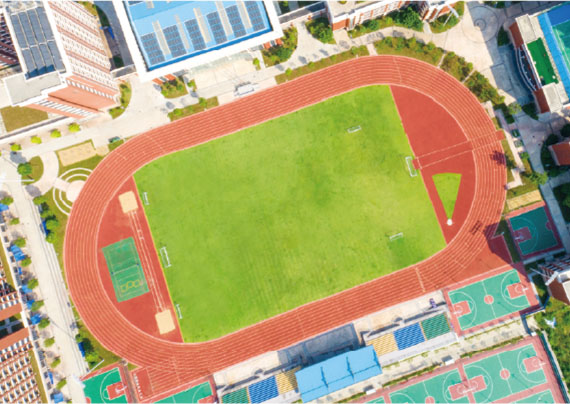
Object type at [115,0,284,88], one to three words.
building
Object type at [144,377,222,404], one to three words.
basketball court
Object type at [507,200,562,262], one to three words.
basketball court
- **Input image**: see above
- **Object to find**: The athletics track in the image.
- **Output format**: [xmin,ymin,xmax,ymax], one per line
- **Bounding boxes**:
[64,53,517,402]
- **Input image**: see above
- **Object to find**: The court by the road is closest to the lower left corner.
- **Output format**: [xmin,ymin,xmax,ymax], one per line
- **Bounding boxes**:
[81,364,135,404]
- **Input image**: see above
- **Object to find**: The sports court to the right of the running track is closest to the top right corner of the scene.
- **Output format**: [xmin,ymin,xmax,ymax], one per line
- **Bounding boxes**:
[538,2,570,122]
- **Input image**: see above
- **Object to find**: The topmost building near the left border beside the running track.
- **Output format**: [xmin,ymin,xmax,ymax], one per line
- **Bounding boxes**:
[0,0,123,128]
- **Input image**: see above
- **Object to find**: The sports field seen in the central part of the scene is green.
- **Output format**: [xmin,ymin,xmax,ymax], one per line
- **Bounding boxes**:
[134,85,446,343]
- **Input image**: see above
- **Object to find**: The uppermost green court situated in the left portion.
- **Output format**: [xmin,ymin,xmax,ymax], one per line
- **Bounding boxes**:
[102,238,149,302]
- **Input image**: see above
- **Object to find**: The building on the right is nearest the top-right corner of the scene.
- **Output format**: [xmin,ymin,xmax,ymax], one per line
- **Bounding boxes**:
[502,0,570,111]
